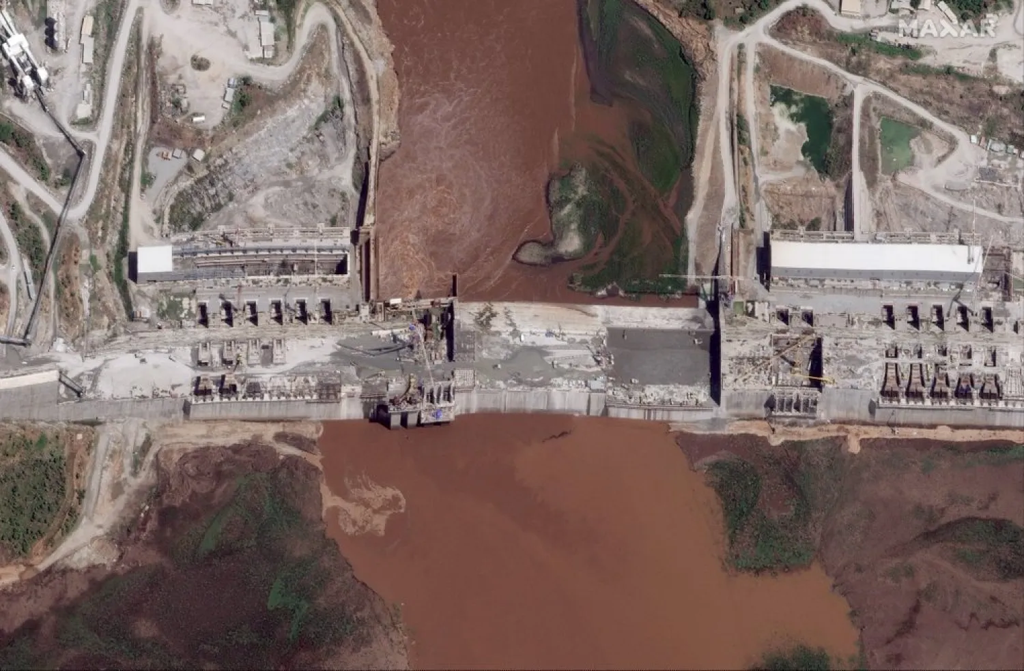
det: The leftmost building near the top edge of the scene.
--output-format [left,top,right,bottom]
[0,2,49,97]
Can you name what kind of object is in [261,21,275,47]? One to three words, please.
building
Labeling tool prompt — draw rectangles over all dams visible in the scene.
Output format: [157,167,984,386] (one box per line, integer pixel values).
[0,300,1024,426]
